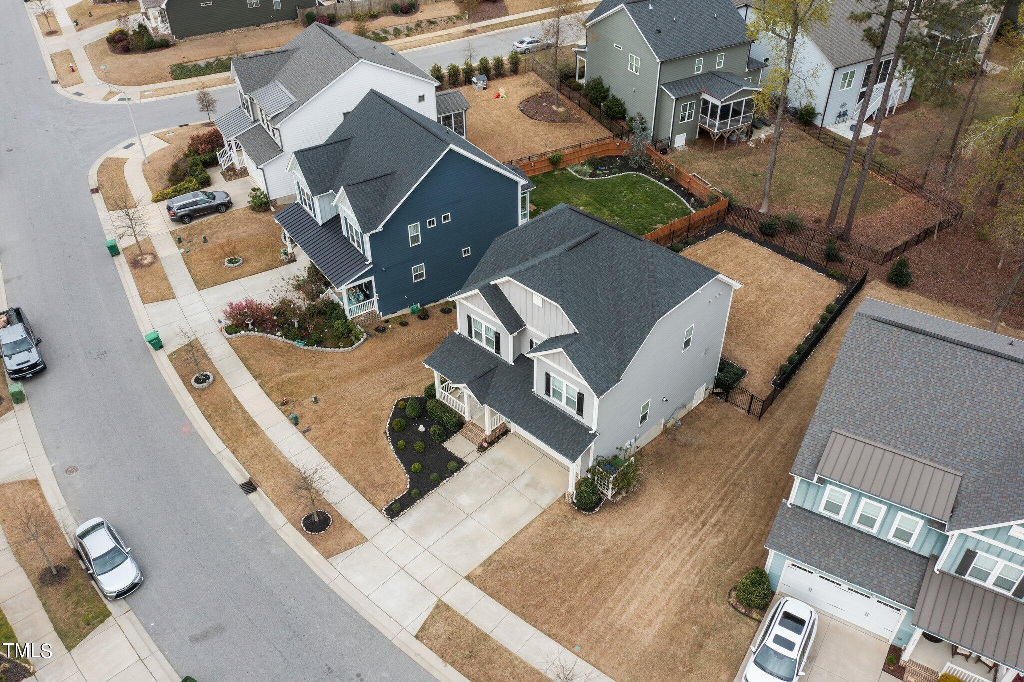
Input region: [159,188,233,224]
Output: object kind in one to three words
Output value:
car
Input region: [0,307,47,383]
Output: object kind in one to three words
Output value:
truck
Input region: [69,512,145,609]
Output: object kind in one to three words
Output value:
car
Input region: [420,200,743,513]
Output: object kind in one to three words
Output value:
house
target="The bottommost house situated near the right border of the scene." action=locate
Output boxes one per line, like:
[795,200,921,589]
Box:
[761,298,1024,682]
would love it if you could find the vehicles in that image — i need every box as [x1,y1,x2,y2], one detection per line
[742,589,821,682]
[69,512,145,609]
[0,307,47,383]
[159,188,233,224]
[512,35,557,54]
